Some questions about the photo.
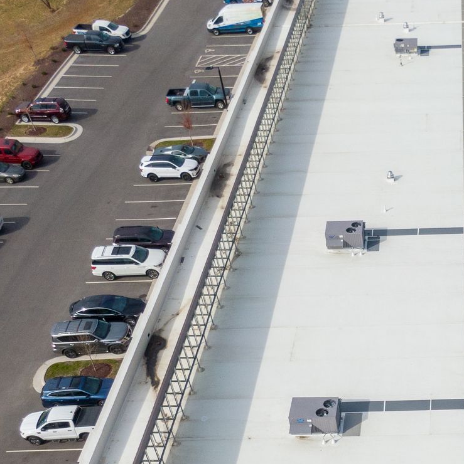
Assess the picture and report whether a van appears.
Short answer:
Yes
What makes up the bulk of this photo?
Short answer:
buildings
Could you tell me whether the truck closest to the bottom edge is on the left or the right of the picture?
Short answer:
left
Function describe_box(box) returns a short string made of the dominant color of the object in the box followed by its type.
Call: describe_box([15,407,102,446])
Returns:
white truck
